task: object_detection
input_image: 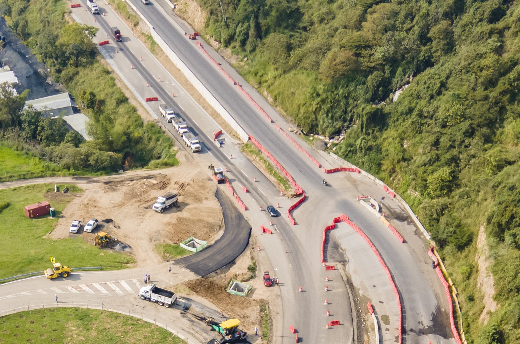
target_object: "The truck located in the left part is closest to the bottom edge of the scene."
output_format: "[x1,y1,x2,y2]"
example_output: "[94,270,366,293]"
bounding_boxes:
[139,282,182,306]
